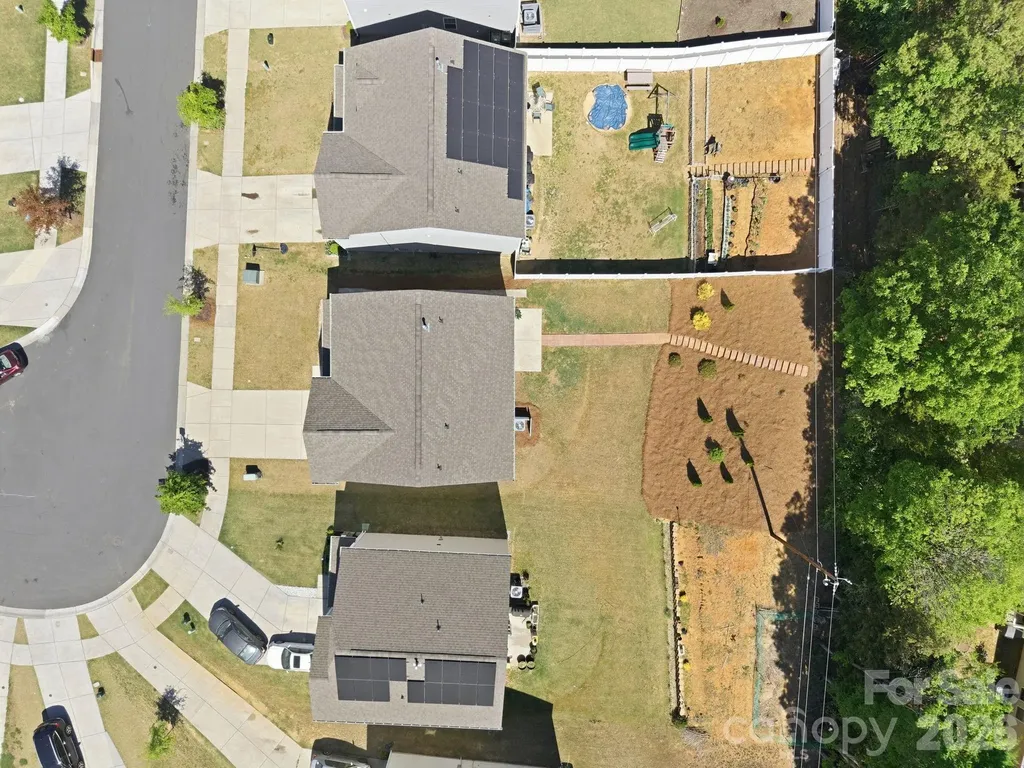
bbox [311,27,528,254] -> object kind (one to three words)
house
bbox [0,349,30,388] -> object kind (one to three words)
car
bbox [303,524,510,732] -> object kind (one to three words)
house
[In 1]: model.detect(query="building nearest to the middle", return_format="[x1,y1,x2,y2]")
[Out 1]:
[301,290,516,487]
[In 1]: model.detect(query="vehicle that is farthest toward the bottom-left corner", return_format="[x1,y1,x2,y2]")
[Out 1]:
[28,720,84,768]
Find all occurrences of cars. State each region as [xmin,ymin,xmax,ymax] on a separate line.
[28,720,84,768]
[0,349,30,388]
[207,599,269,667]
[267,639,309,675]
[312,750,385,768]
